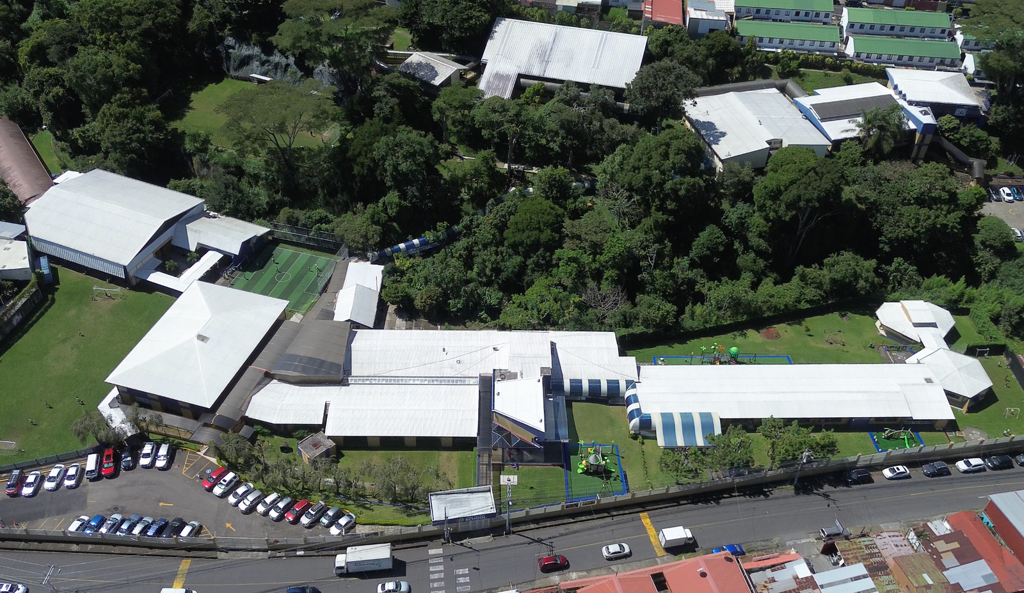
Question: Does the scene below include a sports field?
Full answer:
Yes, the frame does contain a sports field.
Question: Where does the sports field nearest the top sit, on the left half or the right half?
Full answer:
The sports field nearest the top sits on the left side.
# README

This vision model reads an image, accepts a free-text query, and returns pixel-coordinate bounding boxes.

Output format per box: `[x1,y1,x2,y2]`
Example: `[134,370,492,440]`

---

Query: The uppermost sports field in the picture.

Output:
[224,243,339,315]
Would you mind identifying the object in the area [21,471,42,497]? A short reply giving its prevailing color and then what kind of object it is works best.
white car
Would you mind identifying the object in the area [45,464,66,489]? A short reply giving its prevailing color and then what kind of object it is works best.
white car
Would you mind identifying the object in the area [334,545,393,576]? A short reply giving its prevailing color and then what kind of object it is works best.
white truck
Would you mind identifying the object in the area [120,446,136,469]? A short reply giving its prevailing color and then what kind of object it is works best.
black car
